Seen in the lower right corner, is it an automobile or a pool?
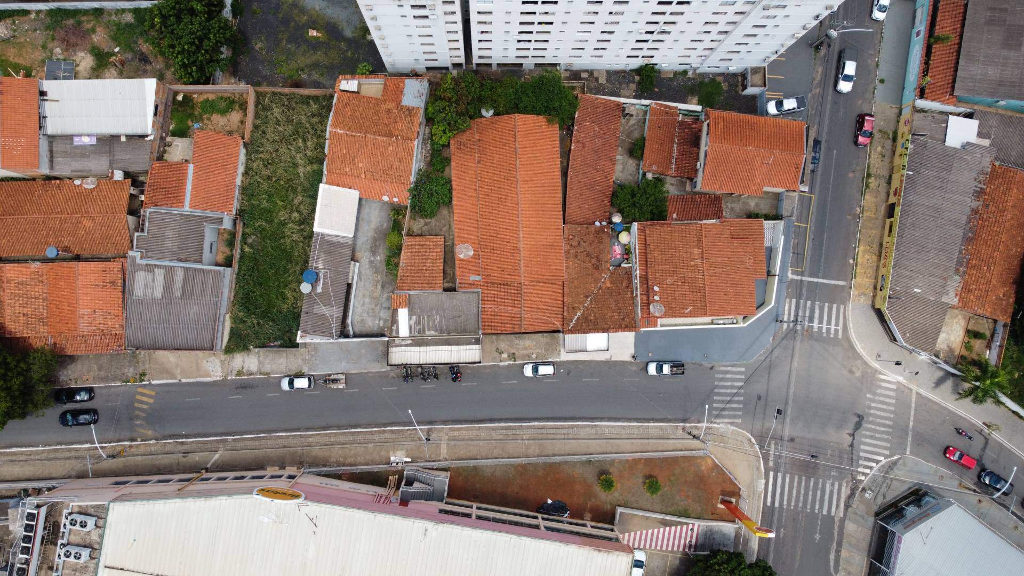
automobile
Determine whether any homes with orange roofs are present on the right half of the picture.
Yes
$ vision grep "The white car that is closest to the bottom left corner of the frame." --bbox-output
[282,375,315,391]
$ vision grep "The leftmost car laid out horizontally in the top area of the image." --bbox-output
[765,97,805,114]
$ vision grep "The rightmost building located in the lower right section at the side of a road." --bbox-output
[852,488,1024,576]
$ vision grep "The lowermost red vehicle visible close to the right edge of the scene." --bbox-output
[942,445,976,469]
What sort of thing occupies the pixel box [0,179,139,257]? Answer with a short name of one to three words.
house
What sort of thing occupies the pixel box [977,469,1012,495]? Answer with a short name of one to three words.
car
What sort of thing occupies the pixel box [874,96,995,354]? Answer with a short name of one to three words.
building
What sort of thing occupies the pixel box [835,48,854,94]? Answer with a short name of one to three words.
car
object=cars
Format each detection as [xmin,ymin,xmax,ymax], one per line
[56,387,96,403]
[1015,493,1024,509]
[282,375,315,391]
[855,114,872,147]
[835,48,854,94]
[977,469,1012,495]
[765,97,805,114]
[811,140,822,170]
[61,409,100,425]
[942,445,976,469]
[869,0,887,26]
[631,548,646,576]
[524,362,555,377]
[647,361,683,376]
